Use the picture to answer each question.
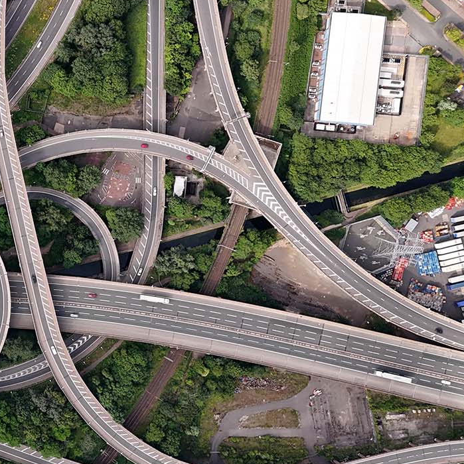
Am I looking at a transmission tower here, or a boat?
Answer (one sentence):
I can see a transmission tower in this picture.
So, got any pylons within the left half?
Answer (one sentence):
No, I can find no pylon within the left half.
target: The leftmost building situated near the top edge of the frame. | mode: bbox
[310,11,410,127]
